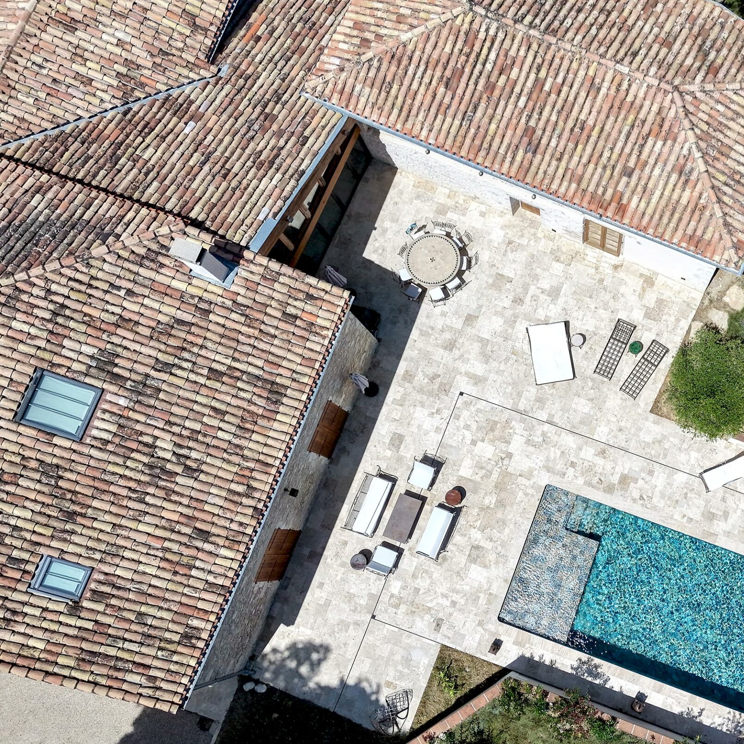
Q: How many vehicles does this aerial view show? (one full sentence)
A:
I count no vehicles.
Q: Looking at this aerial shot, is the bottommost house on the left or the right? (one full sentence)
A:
The bottommost house sits on the left side.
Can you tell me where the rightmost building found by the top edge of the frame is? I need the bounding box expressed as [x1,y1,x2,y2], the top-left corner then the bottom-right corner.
[300,0,744,297]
